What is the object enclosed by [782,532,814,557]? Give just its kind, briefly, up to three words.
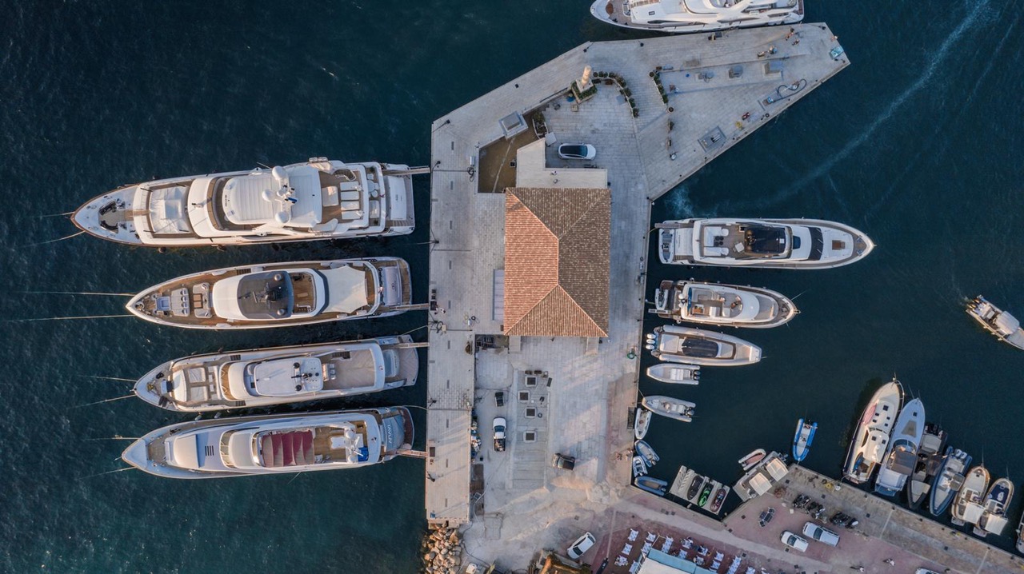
car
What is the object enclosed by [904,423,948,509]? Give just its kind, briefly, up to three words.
boat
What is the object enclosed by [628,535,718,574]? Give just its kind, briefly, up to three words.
building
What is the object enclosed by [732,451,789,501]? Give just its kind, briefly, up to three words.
vessel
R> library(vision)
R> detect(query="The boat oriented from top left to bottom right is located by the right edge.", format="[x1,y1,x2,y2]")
[962,295,1024,349]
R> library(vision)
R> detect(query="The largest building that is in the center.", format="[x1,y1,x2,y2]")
[503,187,612,353]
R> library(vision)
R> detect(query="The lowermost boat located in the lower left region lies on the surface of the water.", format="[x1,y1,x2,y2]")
[92,405,428,483]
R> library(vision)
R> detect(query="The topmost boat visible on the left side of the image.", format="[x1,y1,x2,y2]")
[29,157,431,252]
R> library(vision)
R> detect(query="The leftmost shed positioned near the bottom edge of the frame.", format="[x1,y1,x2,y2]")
[528,545,596,574]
